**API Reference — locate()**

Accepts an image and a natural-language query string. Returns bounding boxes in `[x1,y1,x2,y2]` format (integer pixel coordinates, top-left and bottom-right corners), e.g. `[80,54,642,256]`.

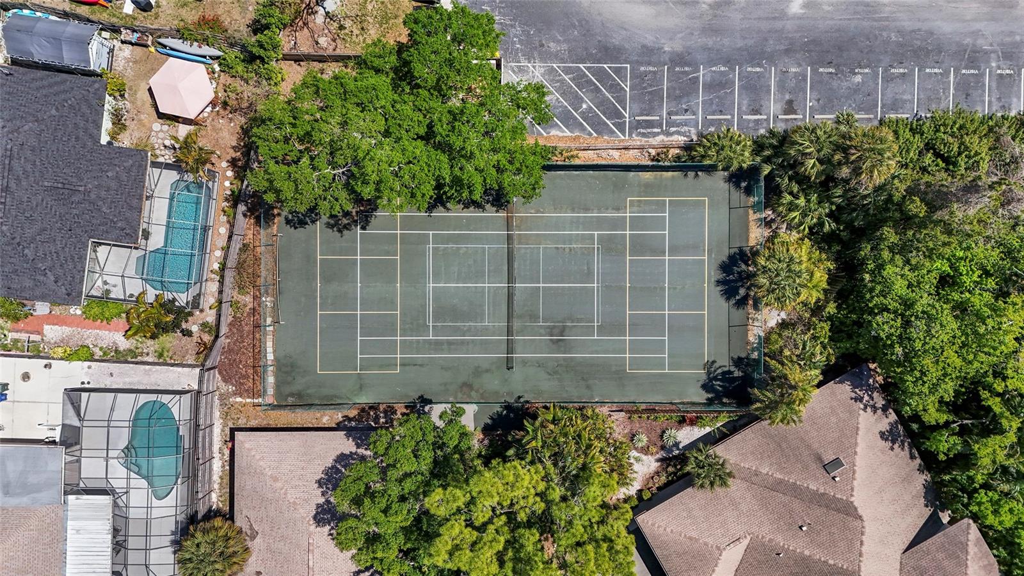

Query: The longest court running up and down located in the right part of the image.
[628,198,707,372]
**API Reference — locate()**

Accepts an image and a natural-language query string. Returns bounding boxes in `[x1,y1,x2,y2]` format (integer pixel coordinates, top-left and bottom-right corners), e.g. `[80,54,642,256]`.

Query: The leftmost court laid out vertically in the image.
[318,199,399,373]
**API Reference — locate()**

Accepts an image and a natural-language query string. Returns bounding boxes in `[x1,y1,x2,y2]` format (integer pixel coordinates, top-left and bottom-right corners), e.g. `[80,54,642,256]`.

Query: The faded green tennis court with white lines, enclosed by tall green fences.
[275,171,748,404]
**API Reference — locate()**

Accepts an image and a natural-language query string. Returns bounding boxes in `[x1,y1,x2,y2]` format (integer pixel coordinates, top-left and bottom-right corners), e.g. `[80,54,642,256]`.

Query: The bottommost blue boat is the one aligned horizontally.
[156,48,211,62]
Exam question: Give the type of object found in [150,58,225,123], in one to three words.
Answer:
gazebo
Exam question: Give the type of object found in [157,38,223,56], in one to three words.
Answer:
boat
